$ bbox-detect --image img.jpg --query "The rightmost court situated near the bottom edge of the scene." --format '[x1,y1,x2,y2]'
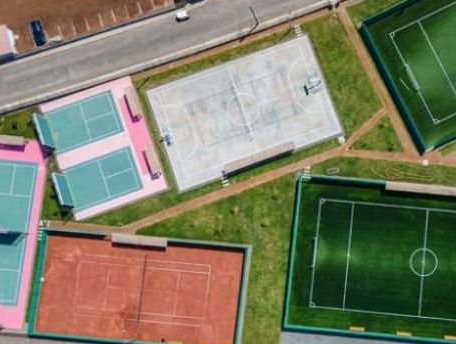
[32,233,247,344]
